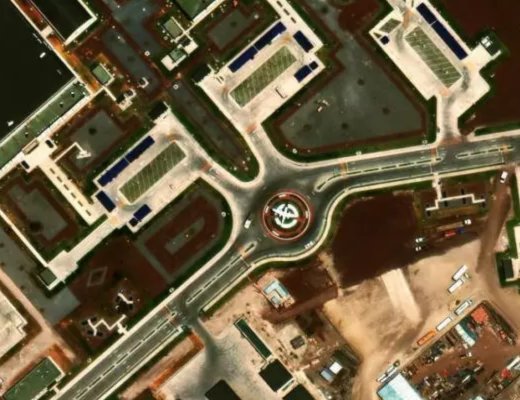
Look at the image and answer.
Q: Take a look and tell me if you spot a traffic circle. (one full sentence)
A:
Yes, the image includes a traffic circle.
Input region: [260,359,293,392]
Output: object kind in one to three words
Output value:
building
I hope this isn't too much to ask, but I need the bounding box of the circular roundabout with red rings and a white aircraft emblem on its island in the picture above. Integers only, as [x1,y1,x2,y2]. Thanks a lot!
[261,190,312,242]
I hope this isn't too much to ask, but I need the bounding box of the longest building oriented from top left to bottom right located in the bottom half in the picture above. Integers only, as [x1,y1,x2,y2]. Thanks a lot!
[234,319,271,358]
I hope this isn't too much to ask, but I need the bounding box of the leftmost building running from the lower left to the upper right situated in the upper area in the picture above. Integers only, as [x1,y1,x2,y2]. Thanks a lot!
[0,79,88,168]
